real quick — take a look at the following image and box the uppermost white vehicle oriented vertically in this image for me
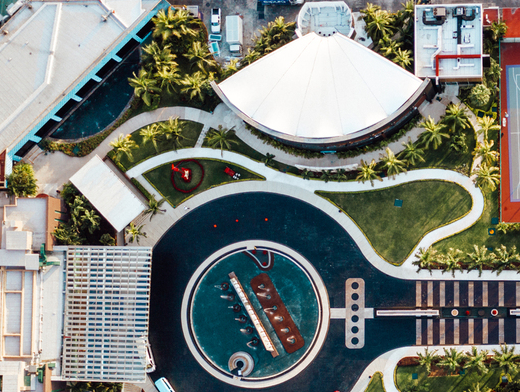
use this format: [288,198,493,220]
[209,7,221,33]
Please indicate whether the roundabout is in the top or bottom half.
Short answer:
bottom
